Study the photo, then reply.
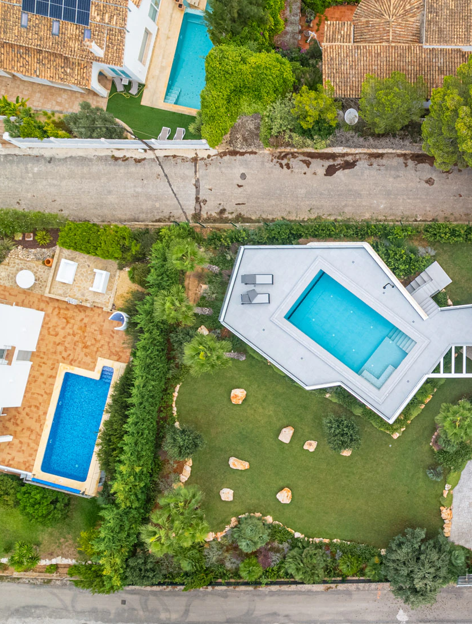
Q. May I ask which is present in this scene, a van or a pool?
pool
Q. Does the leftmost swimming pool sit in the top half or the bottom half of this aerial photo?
bottom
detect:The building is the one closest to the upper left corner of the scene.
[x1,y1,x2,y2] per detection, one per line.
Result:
[0,0,163,97]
